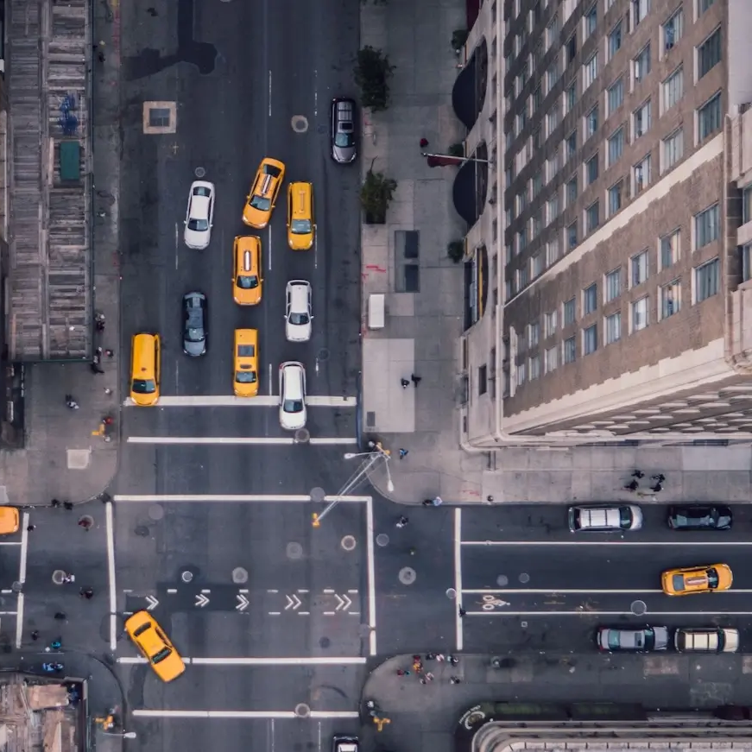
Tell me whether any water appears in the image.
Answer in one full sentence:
No, water can't be seen anywhere here.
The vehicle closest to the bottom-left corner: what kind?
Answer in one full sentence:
The vehicle closest to the bottom-left corner appears to be a car.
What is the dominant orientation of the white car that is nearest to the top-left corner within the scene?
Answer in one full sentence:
In this picture, the white car that is nearest to the top-left corner is oriented vertically.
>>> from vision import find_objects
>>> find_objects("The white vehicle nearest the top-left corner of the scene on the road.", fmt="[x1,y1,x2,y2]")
[182,180,216,252]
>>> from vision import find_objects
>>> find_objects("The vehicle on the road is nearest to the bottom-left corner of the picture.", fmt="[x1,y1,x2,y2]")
[129,609,182,681]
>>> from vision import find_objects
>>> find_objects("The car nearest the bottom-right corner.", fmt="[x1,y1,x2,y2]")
[670,624,739,656]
